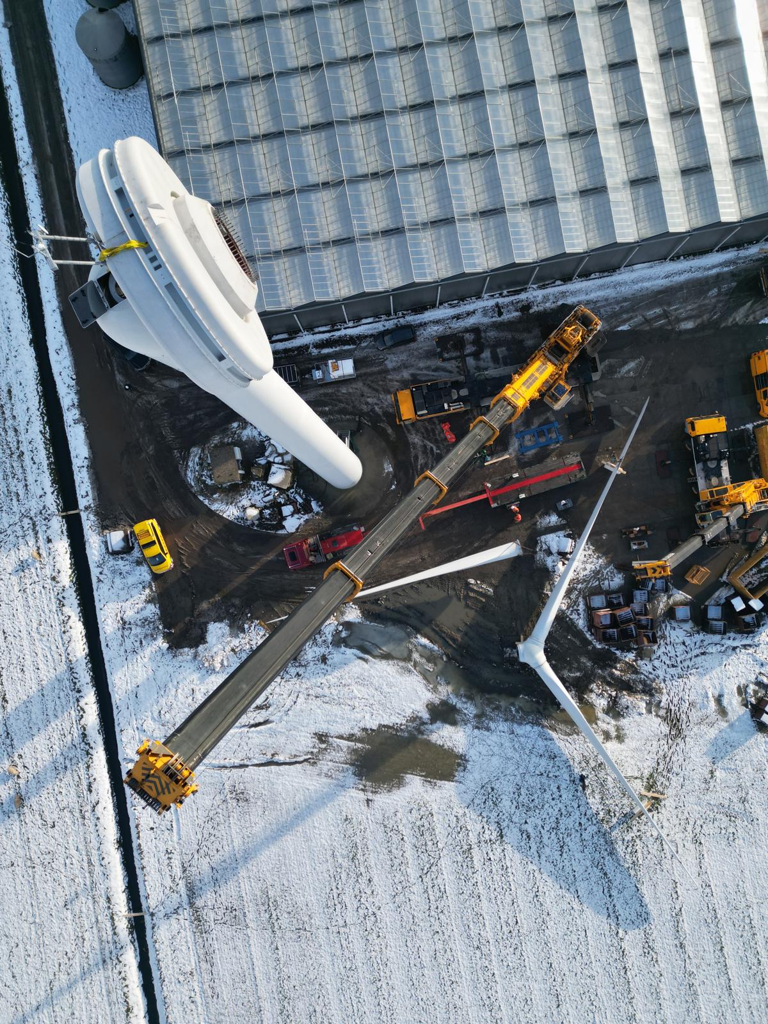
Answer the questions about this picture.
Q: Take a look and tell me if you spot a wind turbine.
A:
Yes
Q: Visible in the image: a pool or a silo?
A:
silo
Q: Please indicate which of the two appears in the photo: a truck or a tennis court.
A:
truck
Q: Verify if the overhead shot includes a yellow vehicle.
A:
Yes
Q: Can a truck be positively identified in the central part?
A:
Yes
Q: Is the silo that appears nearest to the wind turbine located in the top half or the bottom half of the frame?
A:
top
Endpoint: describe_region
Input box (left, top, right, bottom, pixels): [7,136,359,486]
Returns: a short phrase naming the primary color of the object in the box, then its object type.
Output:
white wind turbine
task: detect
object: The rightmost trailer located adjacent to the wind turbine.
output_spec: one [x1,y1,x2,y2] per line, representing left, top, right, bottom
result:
[421,450,589,530]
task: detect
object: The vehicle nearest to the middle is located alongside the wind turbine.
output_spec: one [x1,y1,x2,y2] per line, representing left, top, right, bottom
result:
[285,513,383,571]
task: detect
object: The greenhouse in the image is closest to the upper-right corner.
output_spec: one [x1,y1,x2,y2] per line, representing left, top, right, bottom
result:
[132,0,768,341]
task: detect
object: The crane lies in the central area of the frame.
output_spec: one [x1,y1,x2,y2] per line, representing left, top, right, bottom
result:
[118,301,609,814]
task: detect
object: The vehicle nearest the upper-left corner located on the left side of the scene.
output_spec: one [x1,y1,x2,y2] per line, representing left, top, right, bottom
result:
[98,333,149,374]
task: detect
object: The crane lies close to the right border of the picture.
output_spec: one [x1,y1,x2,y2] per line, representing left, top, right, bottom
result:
[632,411,768,578]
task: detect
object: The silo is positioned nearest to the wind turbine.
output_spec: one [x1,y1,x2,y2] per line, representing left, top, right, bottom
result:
[75,3,143,87]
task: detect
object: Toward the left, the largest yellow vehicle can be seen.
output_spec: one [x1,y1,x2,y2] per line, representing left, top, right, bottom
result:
[130,518,171,573]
